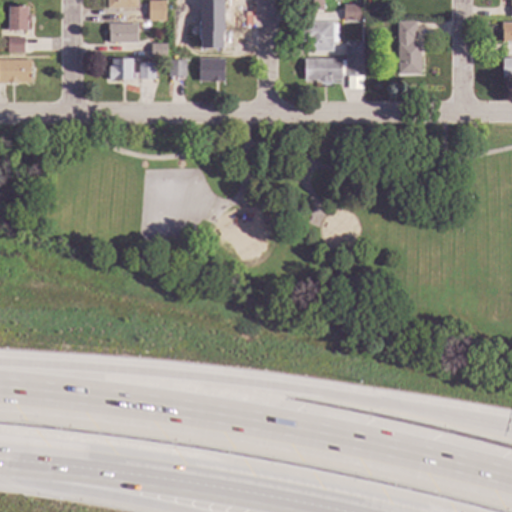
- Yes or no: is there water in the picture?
No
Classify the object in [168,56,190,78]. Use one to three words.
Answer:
building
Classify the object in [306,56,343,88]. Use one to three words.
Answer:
house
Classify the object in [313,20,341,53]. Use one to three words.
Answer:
house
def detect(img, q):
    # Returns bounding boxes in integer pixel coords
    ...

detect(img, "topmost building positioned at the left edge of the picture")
[8,3,30,30]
